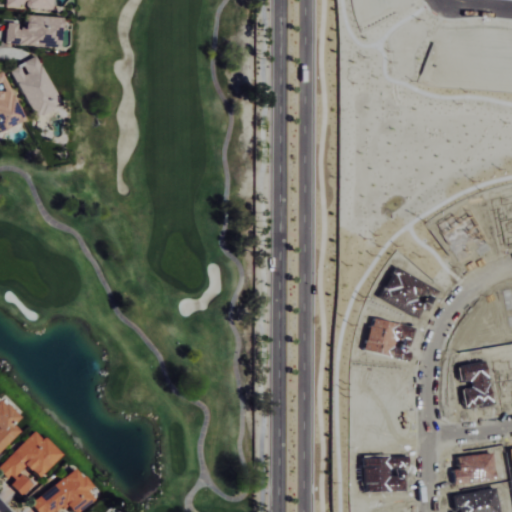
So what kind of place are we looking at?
golf course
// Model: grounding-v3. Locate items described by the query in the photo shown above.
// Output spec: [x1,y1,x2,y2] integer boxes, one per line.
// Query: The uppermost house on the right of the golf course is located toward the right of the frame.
[383,270,440,318]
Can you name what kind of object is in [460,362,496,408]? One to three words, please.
house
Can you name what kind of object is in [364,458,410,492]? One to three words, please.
house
